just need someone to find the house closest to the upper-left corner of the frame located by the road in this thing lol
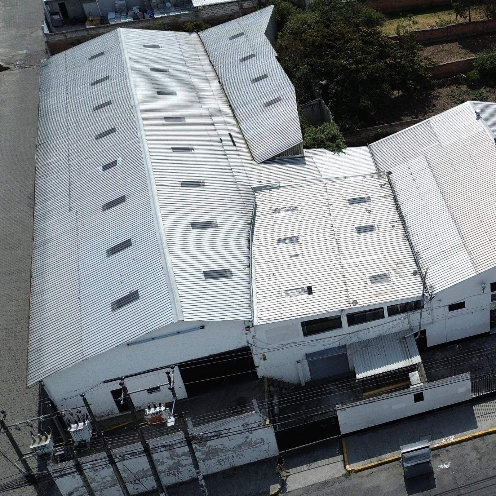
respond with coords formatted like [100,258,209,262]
[39,0,95,41]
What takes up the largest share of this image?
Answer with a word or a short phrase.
buildings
